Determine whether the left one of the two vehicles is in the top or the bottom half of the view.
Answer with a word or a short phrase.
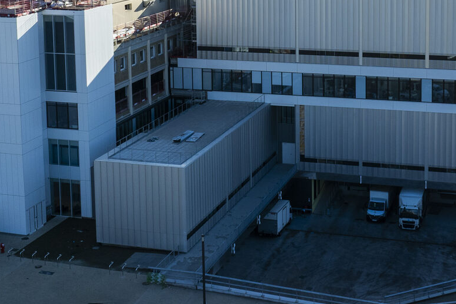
bottom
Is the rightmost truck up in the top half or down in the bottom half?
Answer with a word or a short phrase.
bottom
